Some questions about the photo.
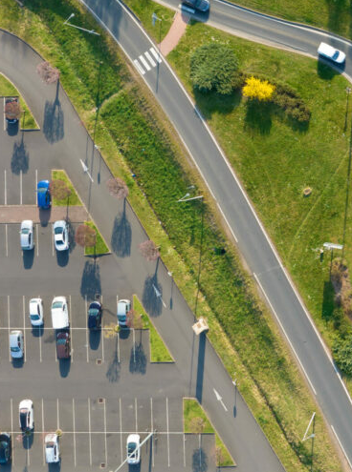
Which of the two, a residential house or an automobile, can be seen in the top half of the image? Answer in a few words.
automobile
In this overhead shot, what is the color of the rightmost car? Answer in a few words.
white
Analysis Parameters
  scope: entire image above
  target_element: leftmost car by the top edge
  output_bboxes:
[179,0,210,13]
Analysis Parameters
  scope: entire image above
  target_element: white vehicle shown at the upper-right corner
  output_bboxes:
[316,43,345,64]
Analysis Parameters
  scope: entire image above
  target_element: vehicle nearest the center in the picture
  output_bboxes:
[115,300,131,327]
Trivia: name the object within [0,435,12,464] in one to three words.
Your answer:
vehicle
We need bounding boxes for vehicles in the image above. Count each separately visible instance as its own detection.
[52,296,70,330]
[44,434,61,464]
[0,435,12,464]
[316,43,345,64]
[19,223,36,249]
[28,299,45,325]
[54,221,70,252]
[87,301,103,329]
[18,402,35,431]
[36,181,52,208]
[115,300,131,327]
[9,330,25,358]
[179,0,210,13]
[55,330,72,361]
